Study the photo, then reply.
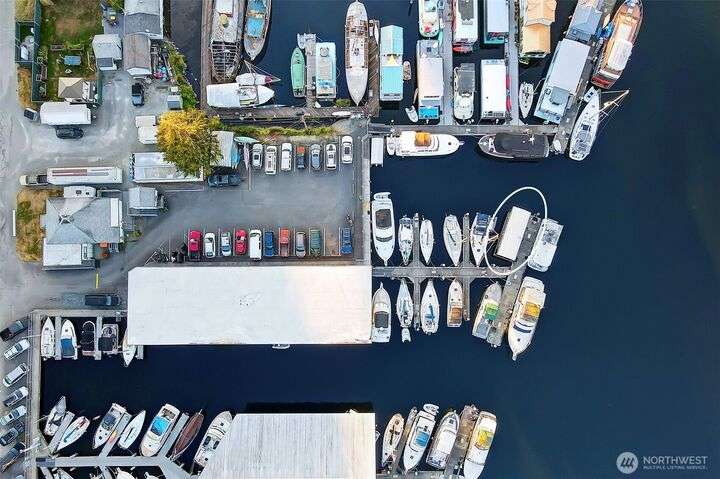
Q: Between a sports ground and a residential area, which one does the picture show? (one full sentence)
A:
The picture captures a residential area.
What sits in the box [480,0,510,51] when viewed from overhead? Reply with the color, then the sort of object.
white boat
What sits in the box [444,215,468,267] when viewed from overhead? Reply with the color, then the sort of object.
white boat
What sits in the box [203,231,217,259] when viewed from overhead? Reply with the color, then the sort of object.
white vehicle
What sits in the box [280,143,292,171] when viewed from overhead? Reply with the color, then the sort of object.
white vehicle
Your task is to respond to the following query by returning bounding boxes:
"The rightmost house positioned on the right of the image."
[493,206,531,263]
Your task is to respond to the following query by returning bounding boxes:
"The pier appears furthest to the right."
[555,0,619,154]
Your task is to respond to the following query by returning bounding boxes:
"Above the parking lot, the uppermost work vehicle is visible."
[105,11,119,32]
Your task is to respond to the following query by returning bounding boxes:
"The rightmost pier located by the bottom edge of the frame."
[378,405,477,479]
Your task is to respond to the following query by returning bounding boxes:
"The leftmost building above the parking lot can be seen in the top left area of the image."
[57,77,90,102]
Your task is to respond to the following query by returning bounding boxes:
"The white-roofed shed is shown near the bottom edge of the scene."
[202,407,376,479]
